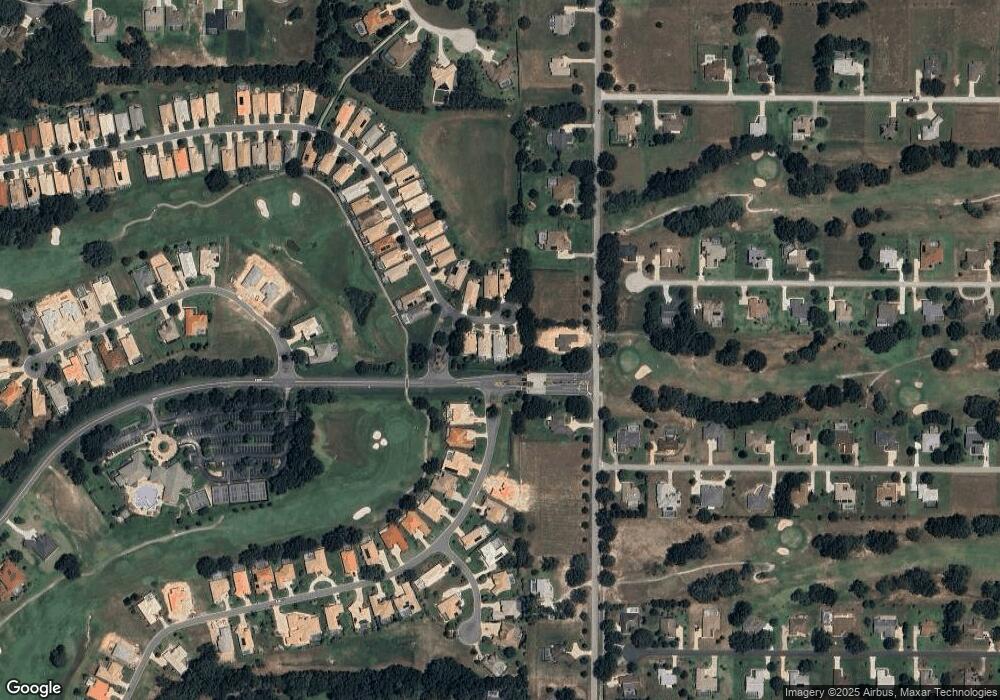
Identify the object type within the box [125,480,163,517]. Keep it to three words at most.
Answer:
swimming pool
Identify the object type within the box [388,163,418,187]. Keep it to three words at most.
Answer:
house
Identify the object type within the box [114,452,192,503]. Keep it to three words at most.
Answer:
building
